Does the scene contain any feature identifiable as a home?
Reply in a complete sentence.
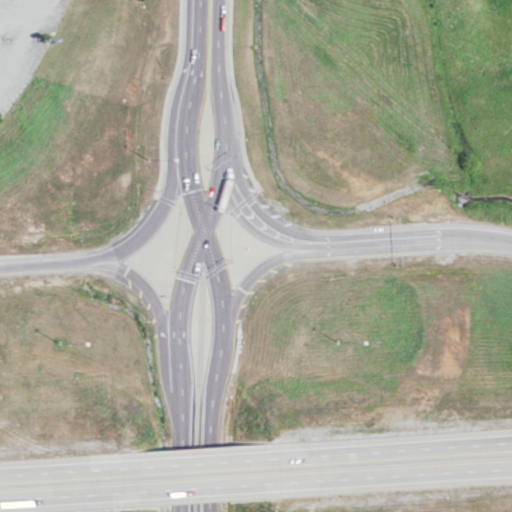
No, I find no home anywhere in the image.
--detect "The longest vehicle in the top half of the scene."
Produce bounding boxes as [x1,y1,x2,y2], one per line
[217,168,232,213]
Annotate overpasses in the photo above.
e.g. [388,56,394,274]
[146,444,256,508]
